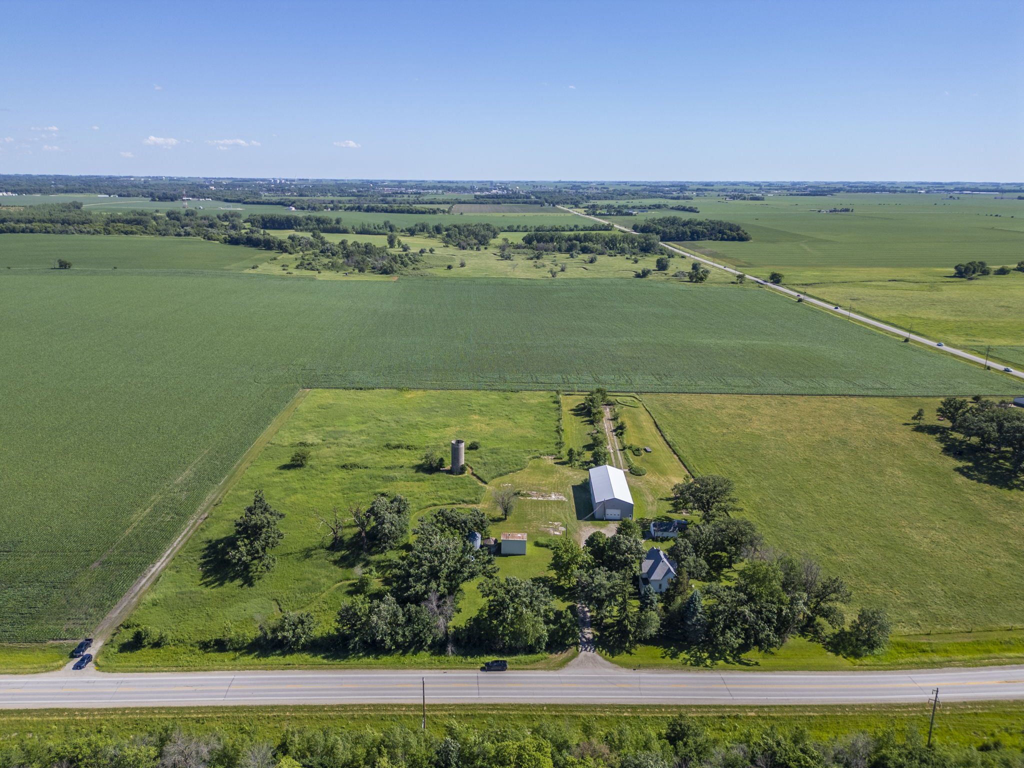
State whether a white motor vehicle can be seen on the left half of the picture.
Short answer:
No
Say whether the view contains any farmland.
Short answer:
Yes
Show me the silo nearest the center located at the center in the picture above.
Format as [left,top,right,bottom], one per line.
[451,438,464,472]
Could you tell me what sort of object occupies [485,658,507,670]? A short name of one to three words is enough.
vehicle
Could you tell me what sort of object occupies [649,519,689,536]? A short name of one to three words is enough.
building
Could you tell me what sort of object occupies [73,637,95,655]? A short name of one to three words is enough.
vehicle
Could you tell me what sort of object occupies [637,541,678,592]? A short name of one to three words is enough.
house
